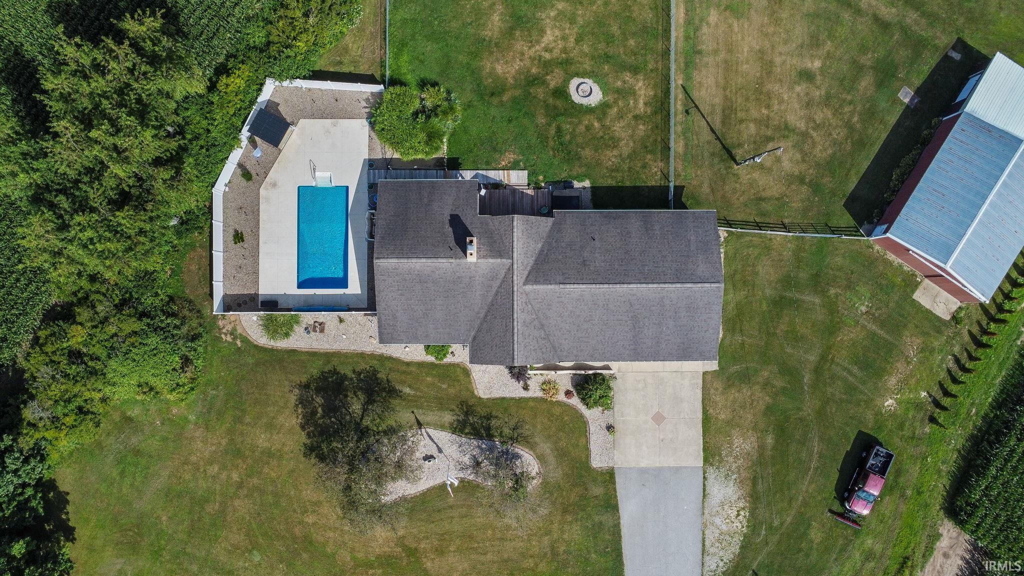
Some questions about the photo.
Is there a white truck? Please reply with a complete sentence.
No, there's no white truck here.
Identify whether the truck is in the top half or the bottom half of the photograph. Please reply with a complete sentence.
You can find the truck in the bottom half.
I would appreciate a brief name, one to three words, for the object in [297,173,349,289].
swimming pool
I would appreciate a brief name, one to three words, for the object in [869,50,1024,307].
barn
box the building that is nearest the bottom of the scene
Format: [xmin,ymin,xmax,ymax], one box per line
[371,179,726,369]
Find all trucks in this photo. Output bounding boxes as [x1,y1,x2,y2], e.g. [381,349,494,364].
[829,442,897,527]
